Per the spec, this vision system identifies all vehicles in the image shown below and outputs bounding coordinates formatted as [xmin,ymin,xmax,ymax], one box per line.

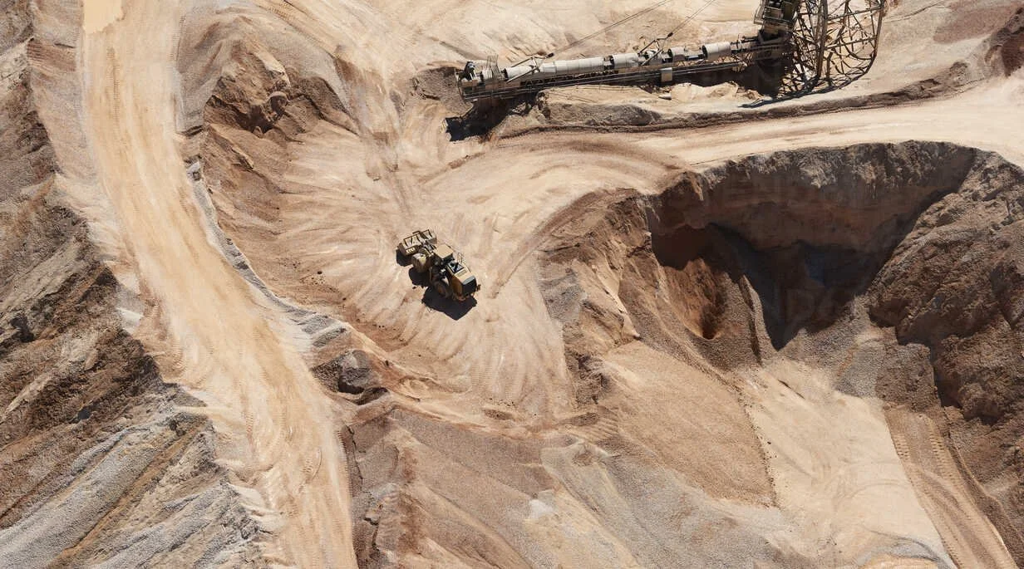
[468,0,886,104]
[397,220,482,301]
